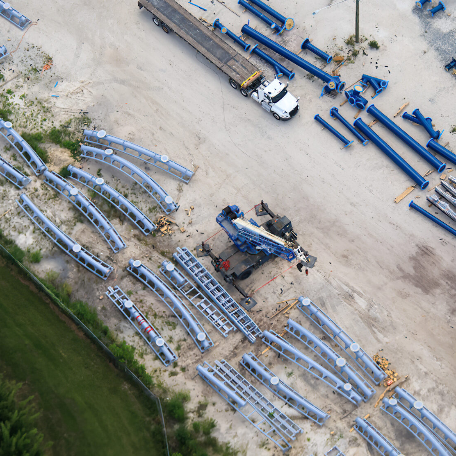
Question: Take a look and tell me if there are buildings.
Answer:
No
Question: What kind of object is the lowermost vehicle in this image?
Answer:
truck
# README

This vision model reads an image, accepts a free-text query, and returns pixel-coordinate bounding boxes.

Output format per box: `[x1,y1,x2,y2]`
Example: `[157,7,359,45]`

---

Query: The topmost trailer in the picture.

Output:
[138,0,260,87]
